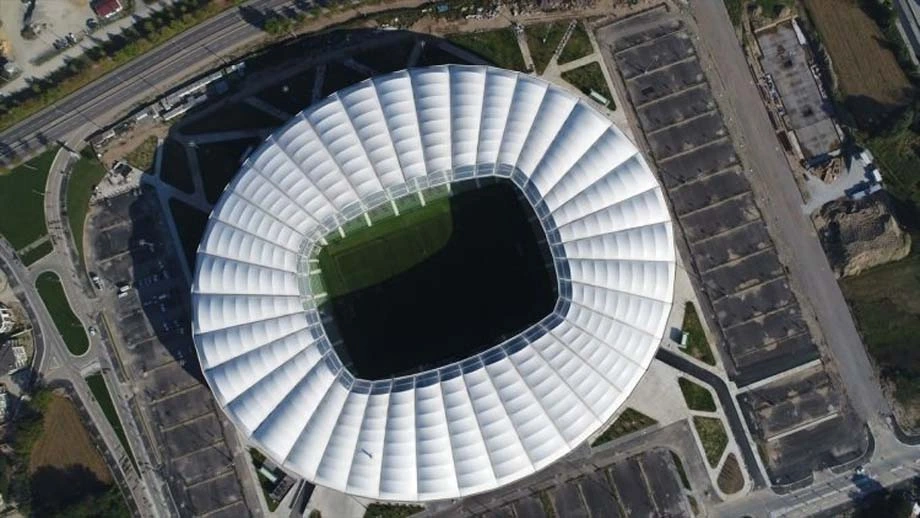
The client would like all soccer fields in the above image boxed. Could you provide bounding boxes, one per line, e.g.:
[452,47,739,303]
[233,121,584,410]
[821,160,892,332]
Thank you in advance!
[328,190,548,367]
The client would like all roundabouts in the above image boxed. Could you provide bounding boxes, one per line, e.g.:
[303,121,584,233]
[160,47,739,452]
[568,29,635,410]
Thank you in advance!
[28,264,99,362]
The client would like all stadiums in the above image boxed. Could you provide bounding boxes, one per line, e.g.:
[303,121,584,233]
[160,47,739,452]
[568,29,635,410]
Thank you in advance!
[191,64,675,502]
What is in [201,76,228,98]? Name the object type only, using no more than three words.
shed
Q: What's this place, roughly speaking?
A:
sports ground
